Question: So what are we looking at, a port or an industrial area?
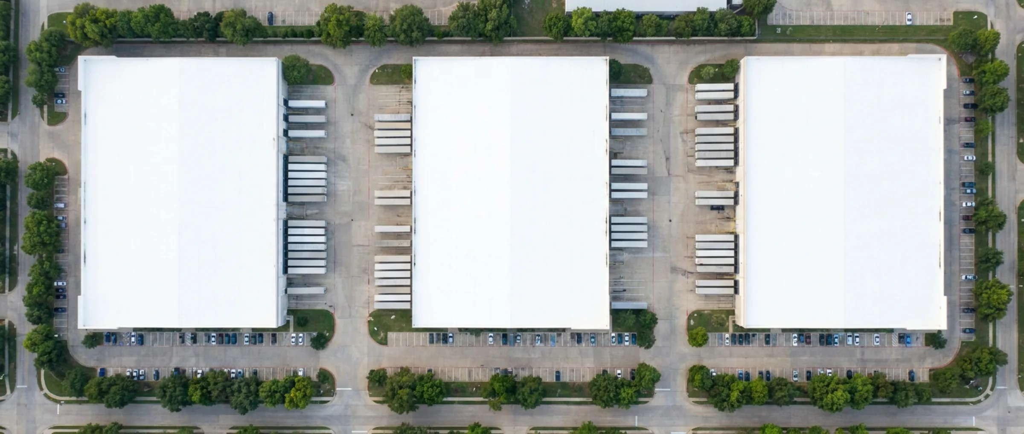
industrial area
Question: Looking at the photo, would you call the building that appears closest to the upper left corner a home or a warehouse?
warehouse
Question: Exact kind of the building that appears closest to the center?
warehouse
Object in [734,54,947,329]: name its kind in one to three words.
warehouse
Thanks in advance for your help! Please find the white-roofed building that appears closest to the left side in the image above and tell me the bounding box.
[78,56,289,329]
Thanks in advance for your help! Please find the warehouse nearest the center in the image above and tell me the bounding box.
[411,57,611,329]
